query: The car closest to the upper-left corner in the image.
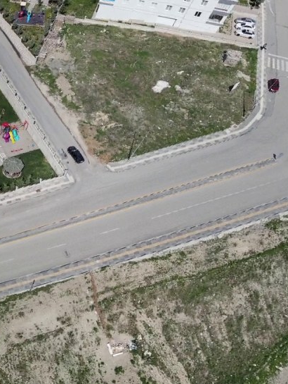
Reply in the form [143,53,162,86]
[65,144,86,160]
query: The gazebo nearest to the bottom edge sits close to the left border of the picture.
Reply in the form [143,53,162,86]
[3,156,23,175]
